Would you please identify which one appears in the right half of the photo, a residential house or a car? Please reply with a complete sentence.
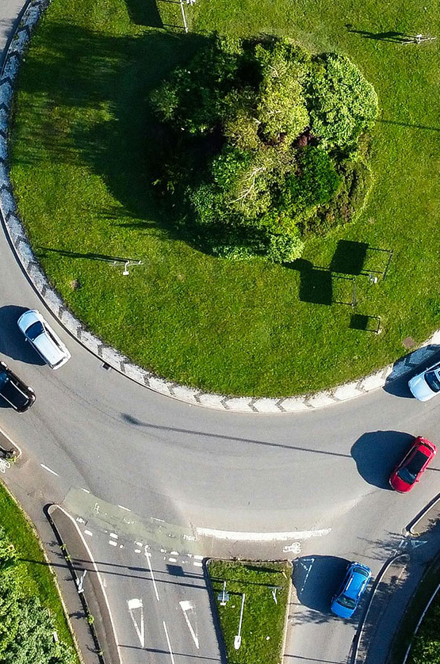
What appears in the right half of the photo is a car.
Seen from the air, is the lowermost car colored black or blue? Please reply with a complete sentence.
The lowermost car is blue.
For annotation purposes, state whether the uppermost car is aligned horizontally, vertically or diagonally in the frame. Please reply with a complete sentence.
The uppermost car is laid out diagonally.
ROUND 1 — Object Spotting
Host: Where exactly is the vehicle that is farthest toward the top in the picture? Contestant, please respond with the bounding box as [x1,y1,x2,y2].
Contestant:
[20,310,70,368]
